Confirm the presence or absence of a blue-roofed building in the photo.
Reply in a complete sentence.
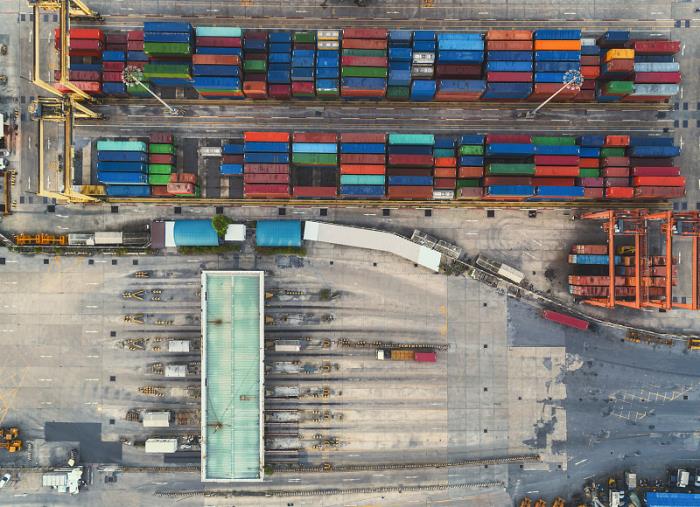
Yes, the image includes a blue-roofed building.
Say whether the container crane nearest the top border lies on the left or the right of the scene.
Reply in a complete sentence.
You can find the container crane nearest the top border on the left side of the picture.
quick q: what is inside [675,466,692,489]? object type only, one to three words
vehicle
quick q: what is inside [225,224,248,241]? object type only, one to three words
shed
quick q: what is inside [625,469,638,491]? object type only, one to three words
vehicle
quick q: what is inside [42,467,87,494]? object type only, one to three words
building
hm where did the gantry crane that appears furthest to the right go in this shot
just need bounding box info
[623,209,700,310]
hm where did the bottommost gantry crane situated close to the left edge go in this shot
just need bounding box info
[29,94,109,204]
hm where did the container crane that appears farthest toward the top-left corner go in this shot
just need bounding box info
[25,0,105,102]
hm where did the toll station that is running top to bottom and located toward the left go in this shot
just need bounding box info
[201,271,272,482]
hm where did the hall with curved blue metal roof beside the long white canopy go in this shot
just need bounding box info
[256,219,302,247]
